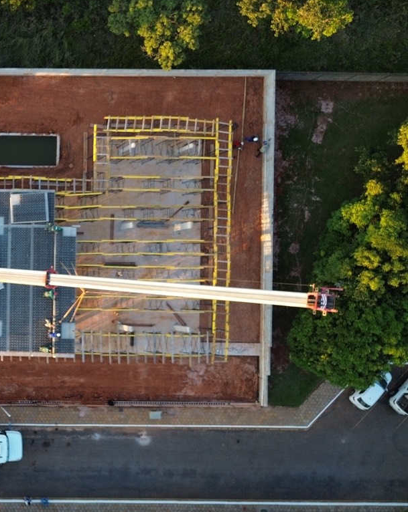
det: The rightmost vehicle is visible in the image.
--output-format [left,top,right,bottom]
[385,379,408,423]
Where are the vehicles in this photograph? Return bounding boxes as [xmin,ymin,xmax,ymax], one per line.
[344,363,393,412]
[385,379,408,423]
[0,427,26,468]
